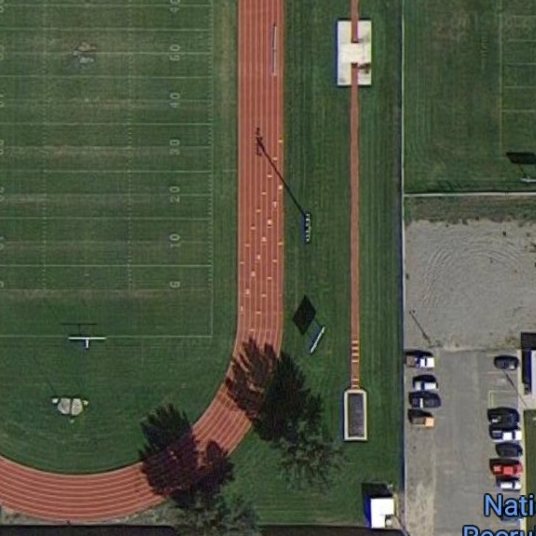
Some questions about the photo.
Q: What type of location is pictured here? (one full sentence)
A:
The area seen from above is a sports ground.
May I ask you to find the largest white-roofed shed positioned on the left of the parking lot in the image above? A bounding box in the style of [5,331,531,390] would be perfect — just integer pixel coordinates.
[367,496,395,528]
